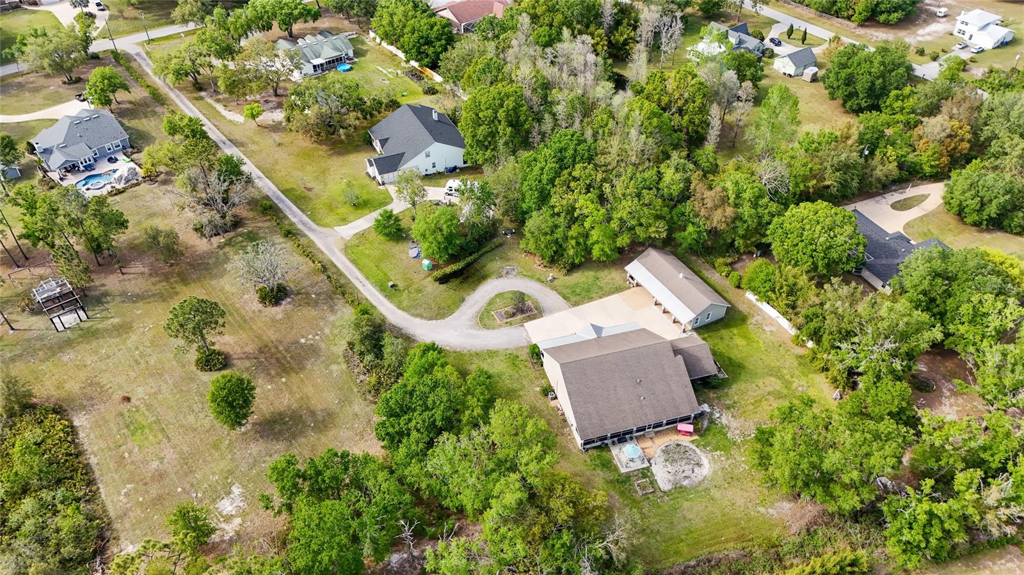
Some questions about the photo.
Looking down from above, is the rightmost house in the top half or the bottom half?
top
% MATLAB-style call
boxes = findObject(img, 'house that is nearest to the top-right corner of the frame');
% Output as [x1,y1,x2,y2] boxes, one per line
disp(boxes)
[953,8,1023,47]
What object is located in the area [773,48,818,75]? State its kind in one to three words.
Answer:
barn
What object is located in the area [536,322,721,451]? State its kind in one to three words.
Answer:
house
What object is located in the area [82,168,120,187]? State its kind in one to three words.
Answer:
swimming pool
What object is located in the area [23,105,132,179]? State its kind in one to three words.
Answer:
house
